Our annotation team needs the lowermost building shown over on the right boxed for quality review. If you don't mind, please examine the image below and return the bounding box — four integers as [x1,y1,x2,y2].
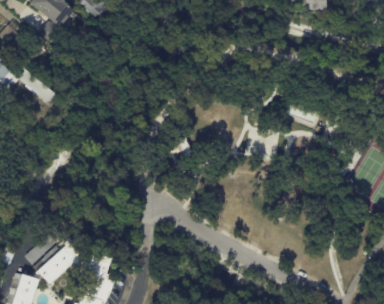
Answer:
[287,103,318,128]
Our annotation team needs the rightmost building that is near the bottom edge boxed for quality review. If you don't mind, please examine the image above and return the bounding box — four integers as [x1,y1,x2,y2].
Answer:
[70,257,115,304]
